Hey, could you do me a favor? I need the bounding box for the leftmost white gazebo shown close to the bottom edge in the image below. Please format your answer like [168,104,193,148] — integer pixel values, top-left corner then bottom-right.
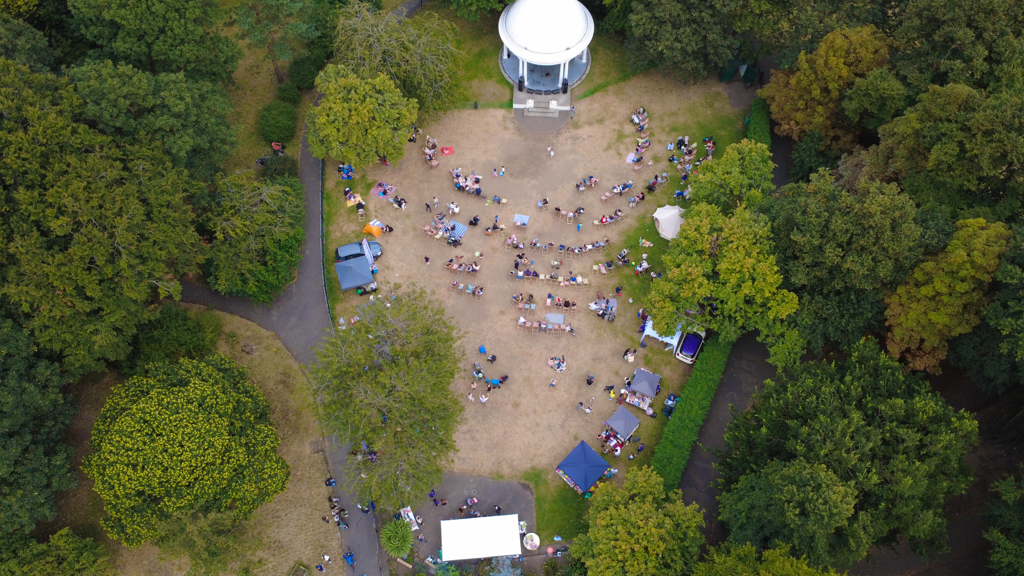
[442,513,523,562]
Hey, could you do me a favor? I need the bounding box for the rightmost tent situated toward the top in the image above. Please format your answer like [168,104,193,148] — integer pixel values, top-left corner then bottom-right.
[641,201,693,250]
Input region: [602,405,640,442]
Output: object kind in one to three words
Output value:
gazebo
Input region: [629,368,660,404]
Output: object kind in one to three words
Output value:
gazebo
